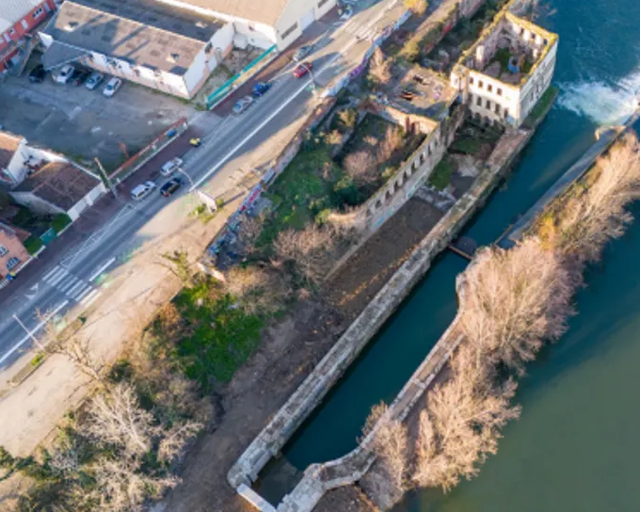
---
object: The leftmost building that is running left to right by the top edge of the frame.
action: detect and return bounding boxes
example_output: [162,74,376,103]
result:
[39,0,221,96]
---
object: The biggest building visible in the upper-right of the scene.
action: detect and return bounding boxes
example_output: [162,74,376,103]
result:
[448,12,559,129]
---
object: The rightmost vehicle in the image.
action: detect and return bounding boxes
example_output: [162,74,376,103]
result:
[341,9,359,23]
